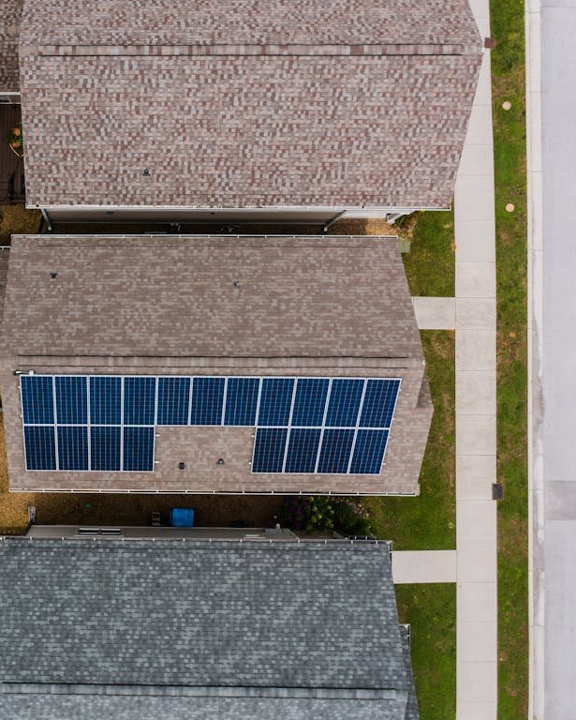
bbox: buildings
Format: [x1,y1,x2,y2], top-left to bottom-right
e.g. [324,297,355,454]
[0,520,420,720]
[19,0,485,234]
[0,233,434,494]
